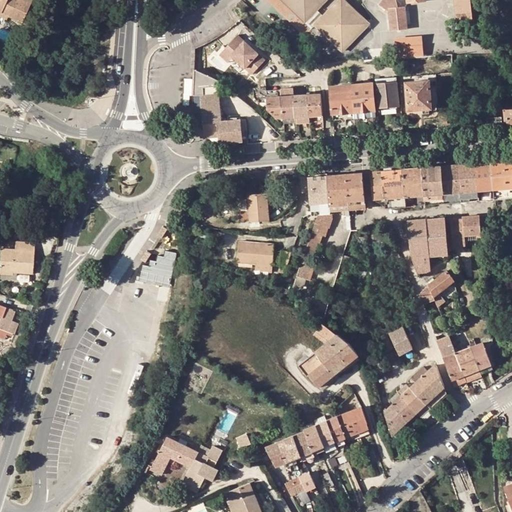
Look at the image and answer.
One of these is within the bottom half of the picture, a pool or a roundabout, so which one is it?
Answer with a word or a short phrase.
pool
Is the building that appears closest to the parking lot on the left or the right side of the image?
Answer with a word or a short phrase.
left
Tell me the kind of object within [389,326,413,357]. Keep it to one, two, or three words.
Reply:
shed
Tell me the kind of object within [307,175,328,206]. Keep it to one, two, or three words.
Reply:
house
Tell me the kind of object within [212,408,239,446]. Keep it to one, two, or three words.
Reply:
swimming pool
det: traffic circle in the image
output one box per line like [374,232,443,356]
[88,131,174,216]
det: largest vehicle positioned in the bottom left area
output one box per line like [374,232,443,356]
[127,366,146,396]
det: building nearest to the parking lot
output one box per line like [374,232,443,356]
[138,250,176,286]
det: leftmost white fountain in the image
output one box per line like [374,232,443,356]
[120,164,138,182]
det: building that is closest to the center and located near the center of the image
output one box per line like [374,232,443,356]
[236,240,274,274]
